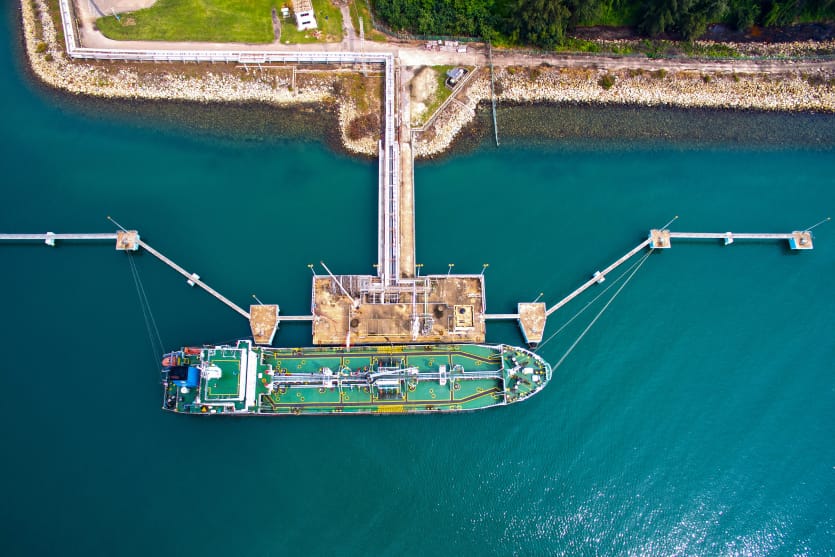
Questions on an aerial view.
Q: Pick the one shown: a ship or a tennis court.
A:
ship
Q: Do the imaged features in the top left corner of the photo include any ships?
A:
No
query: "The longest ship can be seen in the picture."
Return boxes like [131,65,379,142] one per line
[157,341,553,415]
